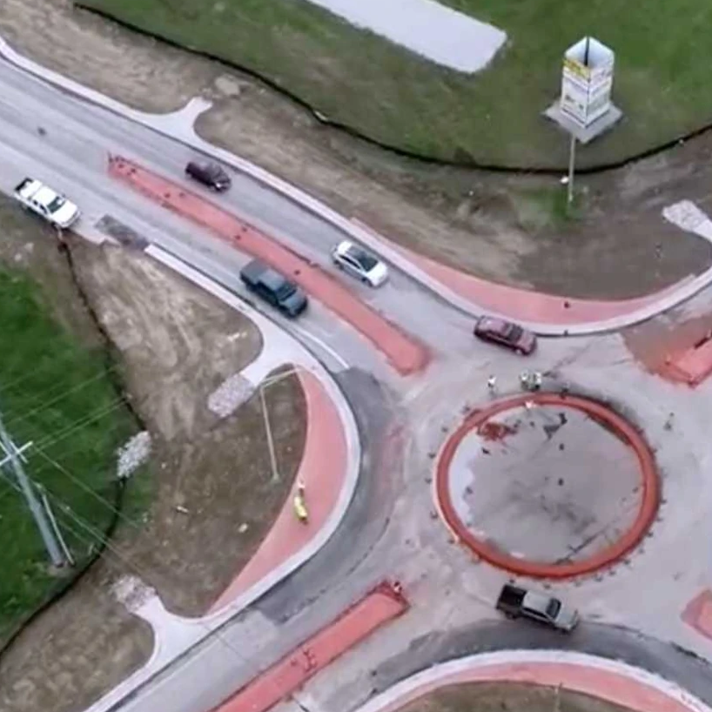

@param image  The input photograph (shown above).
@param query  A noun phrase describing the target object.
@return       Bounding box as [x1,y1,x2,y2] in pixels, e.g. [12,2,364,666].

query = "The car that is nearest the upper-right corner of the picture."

[472,316,539,359]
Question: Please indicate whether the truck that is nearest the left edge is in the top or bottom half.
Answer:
top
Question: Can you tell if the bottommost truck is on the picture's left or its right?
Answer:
right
